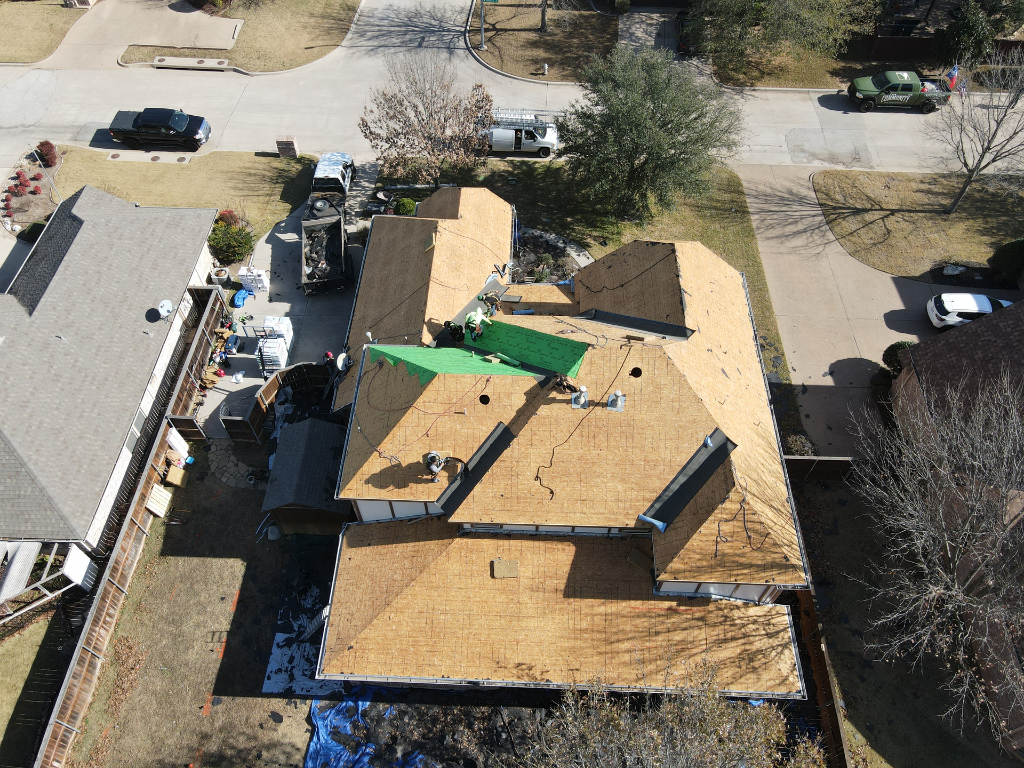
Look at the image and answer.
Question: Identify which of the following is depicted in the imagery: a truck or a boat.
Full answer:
This aerial view contains a truck.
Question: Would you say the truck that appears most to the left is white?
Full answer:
No, the color of the truck that appears most to the left is black.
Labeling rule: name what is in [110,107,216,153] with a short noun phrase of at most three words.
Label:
truck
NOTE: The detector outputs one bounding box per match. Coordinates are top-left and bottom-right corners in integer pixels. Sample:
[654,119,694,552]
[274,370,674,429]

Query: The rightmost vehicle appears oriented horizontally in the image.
[913,290,1009,334]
